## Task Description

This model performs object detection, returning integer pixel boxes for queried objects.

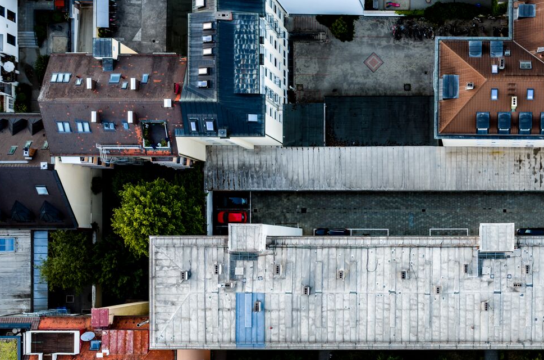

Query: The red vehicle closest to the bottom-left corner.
[217,209,249,225]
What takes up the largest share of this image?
buildings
